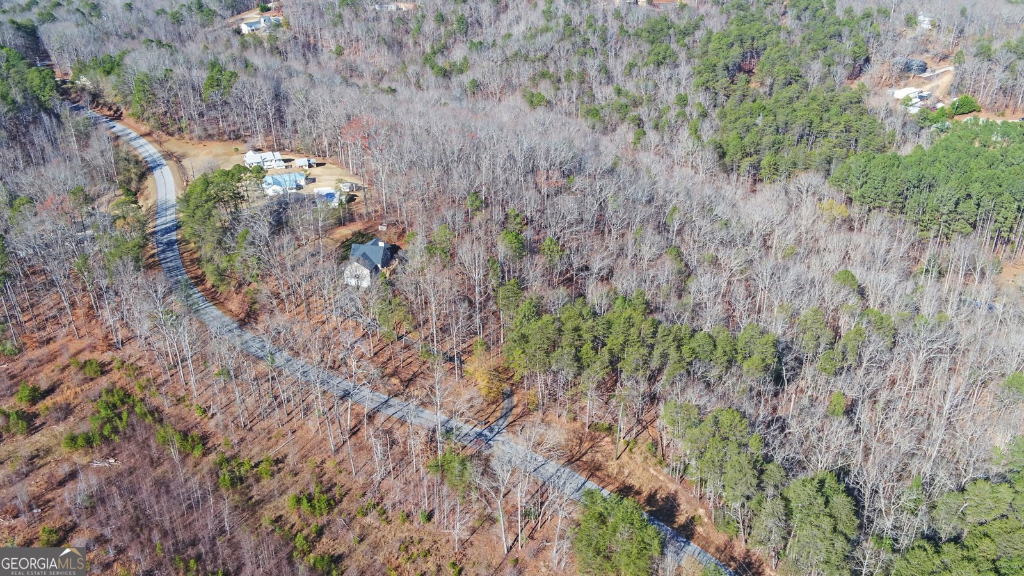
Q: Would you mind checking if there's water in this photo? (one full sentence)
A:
No, no water is visible.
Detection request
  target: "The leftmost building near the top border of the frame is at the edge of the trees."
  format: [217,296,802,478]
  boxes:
[237,17,273,33]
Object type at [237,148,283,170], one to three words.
house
